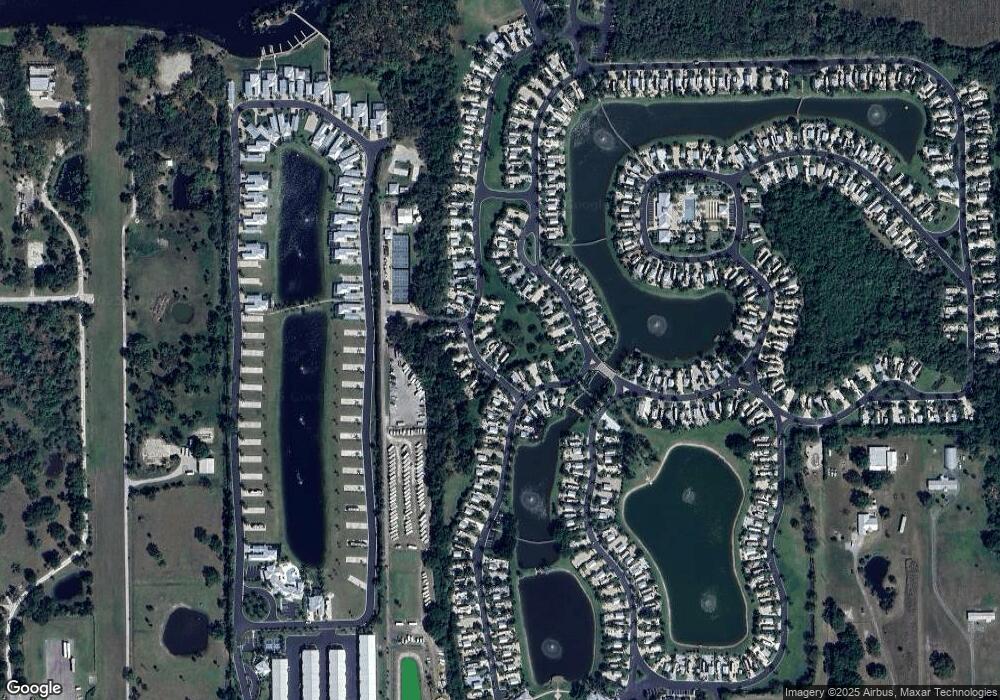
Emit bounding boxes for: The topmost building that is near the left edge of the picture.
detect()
[29,64,54,92]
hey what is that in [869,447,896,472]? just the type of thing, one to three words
barn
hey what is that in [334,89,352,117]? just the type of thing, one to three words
house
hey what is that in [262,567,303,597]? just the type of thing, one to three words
building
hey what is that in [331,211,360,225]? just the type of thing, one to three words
house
